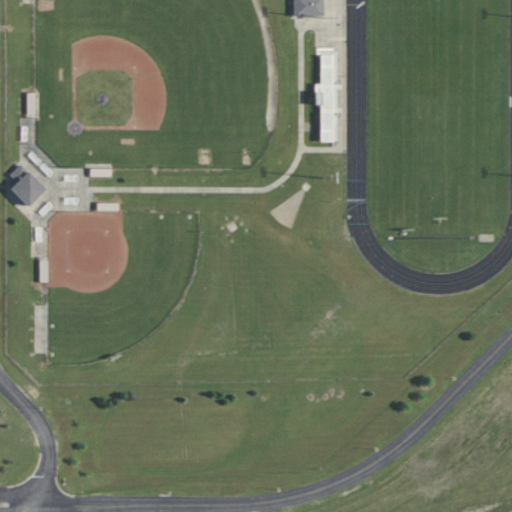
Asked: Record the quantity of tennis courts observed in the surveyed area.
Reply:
zero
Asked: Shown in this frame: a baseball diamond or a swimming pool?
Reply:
baseball diamond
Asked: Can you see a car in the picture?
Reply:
No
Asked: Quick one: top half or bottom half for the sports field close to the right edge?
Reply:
top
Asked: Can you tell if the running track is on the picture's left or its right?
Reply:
right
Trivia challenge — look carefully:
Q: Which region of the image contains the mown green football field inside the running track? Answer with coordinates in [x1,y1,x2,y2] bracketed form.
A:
[366,0,510,274]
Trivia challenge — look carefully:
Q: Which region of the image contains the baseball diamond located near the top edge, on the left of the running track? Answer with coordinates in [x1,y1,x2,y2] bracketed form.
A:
[34,0,276,169]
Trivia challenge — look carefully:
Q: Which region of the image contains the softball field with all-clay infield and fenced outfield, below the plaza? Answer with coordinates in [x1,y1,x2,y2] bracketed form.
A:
[48,211,201,364]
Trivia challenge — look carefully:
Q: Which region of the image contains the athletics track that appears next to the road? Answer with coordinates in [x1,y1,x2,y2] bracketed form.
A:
[346,0,512,295]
